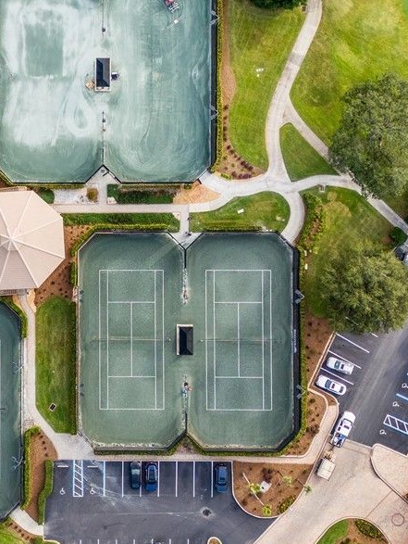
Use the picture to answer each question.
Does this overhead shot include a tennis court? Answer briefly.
Yes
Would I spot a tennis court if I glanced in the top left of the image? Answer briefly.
Yes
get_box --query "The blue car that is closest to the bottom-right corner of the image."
[216,464,229,493]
